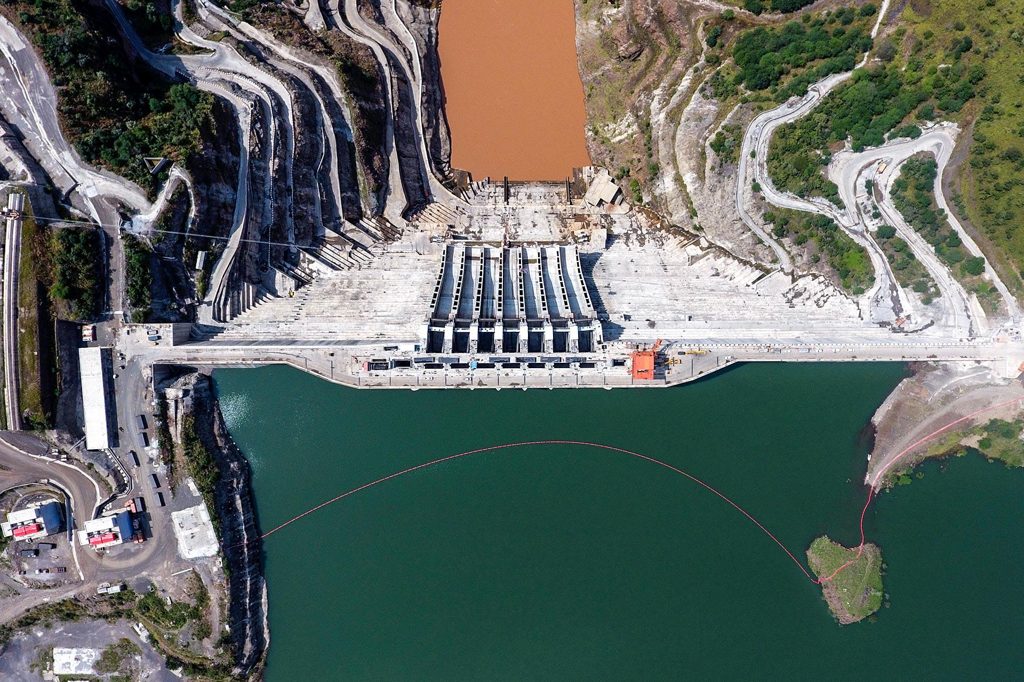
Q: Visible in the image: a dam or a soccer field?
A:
dam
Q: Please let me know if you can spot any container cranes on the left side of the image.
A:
No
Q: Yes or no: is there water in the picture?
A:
Yes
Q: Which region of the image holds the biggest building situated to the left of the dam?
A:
left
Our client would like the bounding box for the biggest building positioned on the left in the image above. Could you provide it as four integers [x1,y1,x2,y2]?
[79,347,116,450]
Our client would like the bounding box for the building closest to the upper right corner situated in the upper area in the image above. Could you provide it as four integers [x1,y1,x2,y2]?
[581,172,631,210]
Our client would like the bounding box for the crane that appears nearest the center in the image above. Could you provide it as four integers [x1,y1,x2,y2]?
[628,337,664,379]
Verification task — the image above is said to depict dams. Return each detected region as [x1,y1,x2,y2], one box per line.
[119,166,993,408]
